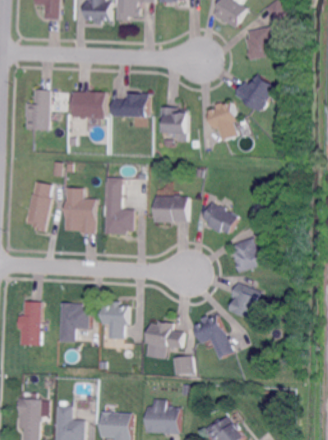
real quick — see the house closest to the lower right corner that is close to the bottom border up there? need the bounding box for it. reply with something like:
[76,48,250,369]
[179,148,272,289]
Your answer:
[200,414,244,440]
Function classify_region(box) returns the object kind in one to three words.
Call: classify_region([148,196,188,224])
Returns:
house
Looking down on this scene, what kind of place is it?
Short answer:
residential area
